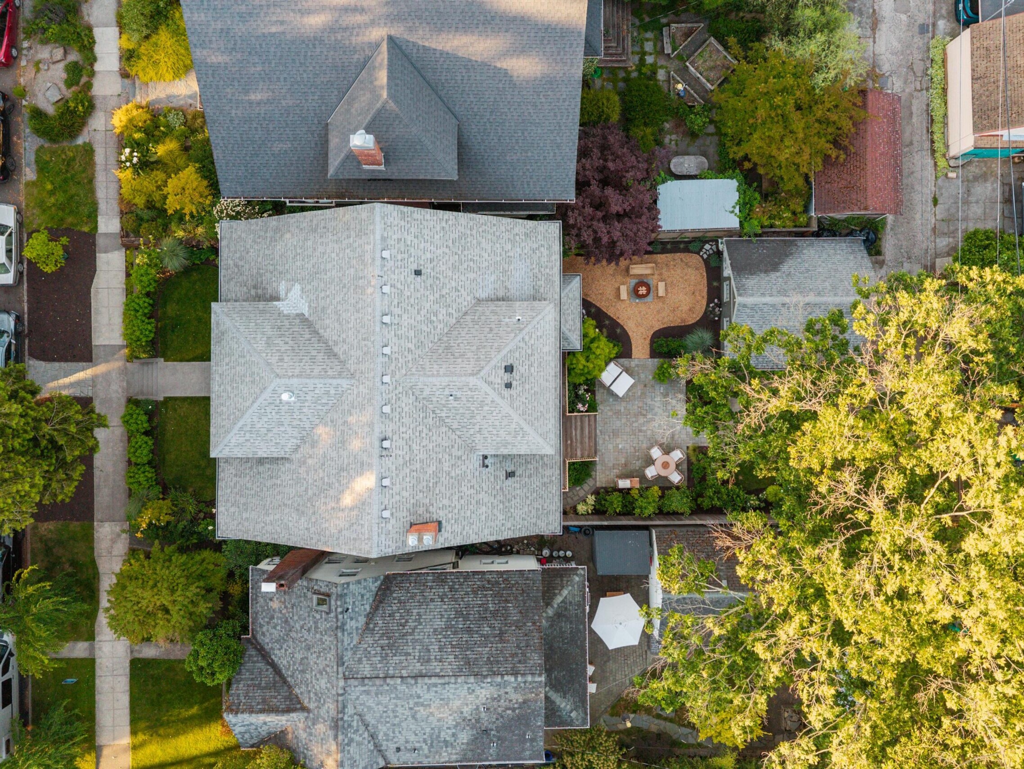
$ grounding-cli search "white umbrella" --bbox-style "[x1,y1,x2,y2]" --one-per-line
[591,593,645,649]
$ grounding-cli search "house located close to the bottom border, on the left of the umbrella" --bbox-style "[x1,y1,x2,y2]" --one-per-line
[222,548,589,769]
